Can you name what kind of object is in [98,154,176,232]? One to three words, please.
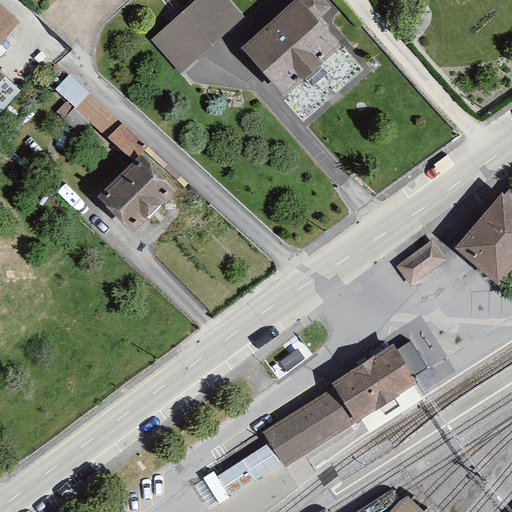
house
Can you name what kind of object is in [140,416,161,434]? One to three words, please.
car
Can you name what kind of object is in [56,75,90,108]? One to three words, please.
shed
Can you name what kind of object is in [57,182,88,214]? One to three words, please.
van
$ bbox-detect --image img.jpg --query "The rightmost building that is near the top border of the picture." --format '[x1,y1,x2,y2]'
[242,0,342,97]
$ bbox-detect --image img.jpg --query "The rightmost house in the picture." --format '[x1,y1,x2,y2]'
[455,182,512,284]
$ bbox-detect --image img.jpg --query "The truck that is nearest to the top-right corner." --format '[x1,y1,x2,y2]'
[428,154,455,178]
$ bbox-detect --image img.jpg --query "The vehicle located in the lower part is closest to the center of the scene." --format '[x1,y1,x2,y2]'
[254,328,278,348]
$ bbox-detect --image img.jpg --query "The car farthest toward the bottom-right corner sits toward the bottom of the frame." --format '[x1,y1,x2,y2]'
[252,414,274,433]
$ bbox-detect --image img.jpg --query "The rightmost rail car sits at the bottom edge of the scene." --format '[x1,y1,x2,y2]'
[355,489,399,512]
